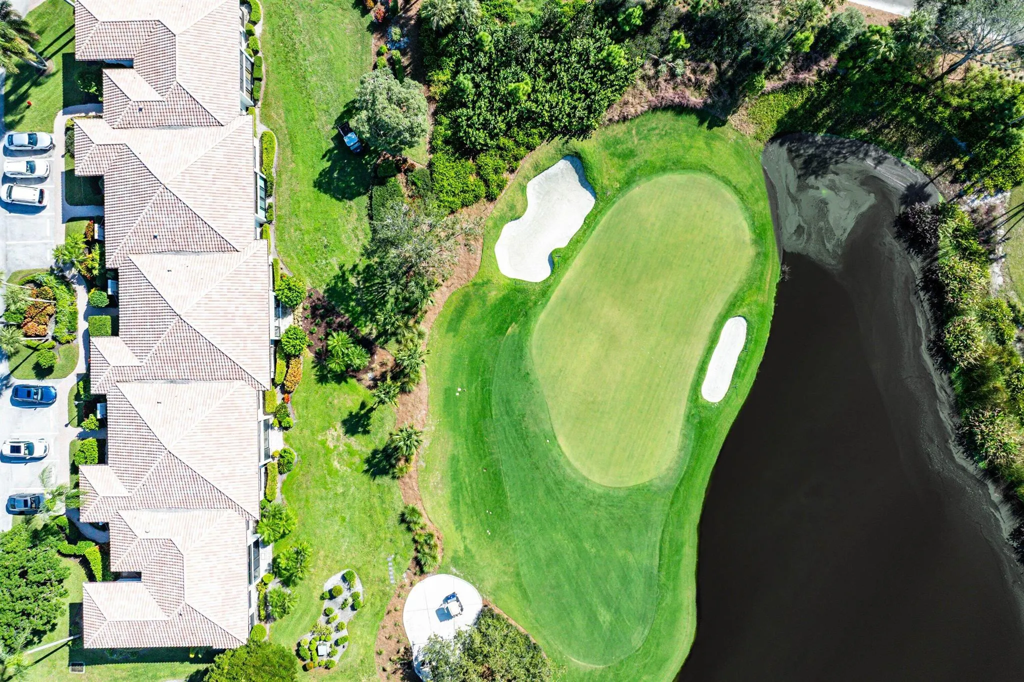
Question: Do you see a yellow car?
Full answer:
No, there is no yellow car in the image.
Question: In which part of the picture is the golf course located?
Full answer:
You can find the golf course in the center area of the picture.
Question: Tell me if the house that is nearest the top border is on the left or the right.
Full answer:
The house that is nearest the top border is on the left side of the image.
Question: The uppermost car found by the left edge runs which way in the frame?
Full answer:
The uppermost car found by the left edge has been laid out horizontally relative to the frame.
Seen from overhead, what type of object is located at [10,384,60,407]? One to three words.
car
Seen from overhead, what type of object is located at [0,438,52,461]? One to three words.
car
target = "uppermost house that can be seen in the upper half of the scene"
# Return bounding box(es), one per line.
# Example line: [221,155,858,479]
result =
[73,0,255,131]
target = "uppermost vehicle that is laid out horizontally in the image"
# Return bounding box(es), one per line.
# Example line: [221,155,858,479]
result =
[4,128,56,152]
